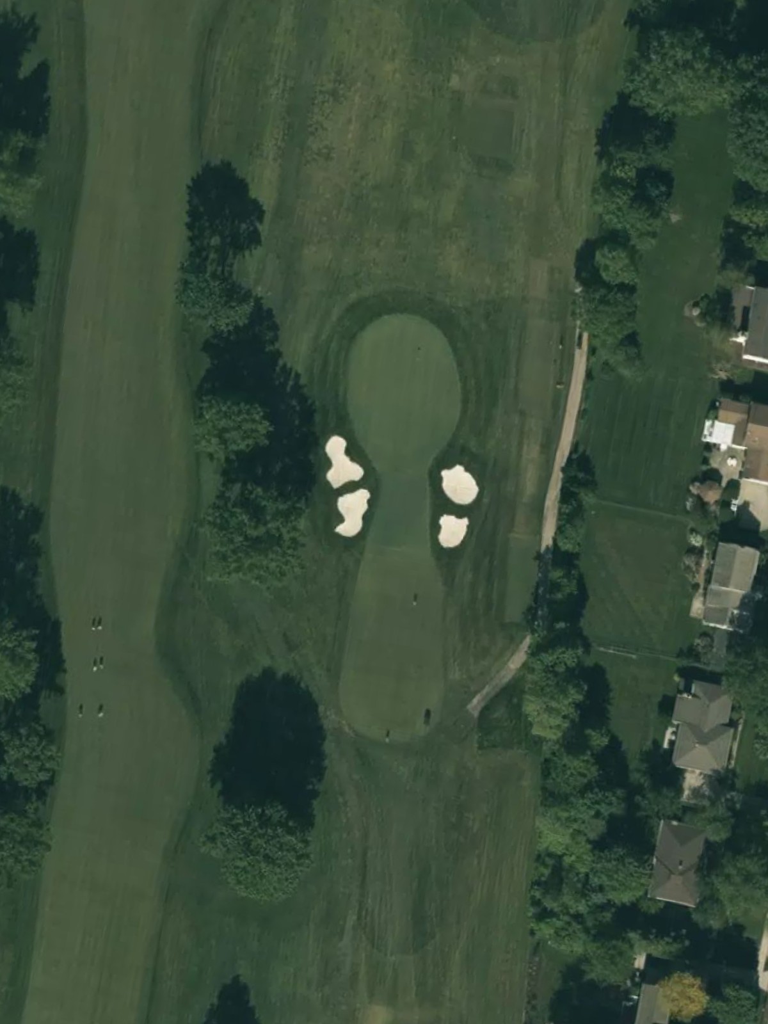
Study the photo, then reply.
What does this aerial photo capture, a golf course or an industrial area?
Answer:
golf course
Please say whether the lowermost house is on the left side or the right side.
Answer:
right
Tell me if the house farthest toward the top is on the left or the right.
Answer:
right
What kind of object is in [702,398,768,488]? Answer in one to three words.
house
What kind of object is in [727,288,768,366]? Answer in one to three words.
house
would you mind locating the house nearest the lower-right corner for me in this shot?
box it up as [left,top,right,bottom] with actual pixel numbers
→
[634,981,668,1024]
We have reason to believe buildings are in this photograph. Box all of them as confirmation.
[634,981,668,1024]
[670,679,736,776]
[702,398,768,488]
[648,819,706,908]
[727,288,768,366]
[700,541,761,633]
